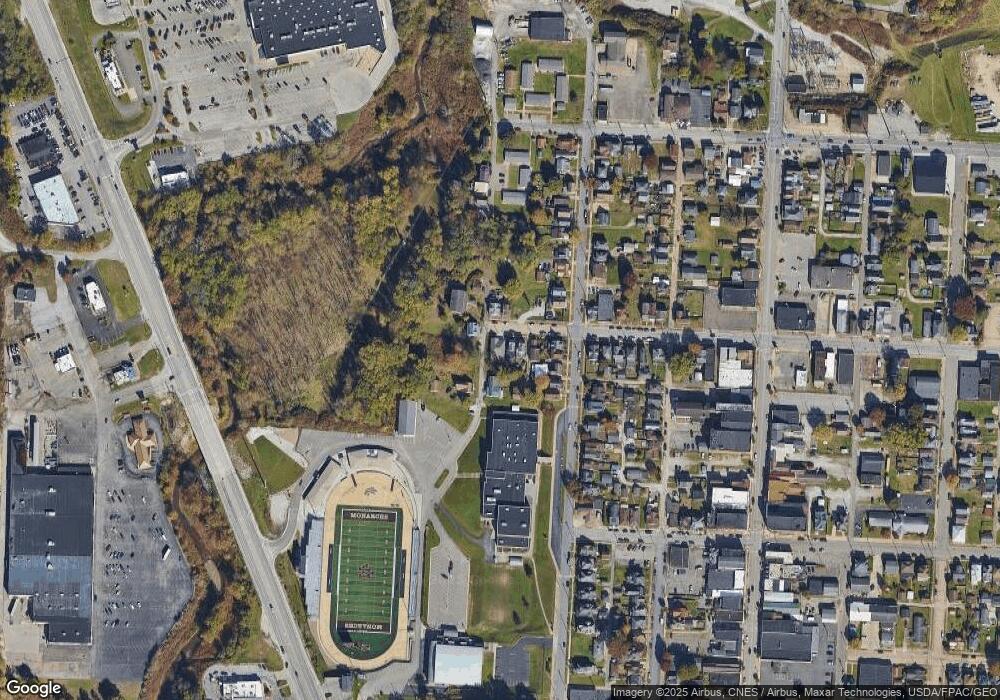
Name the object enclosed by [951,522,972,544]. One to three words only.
house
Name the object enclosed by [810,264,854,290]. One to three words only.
building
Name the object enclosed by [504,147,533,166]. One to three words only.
house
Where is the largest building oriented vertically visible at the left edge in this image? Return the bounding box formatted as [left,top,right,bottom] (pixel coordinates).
[7,431,94,643]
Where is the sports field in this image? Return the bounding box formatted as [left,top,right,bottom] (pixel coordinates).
[328,505,404,658]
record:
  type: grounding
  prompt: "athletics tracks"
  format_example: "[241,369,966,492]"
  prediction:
[319,472,414,670]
